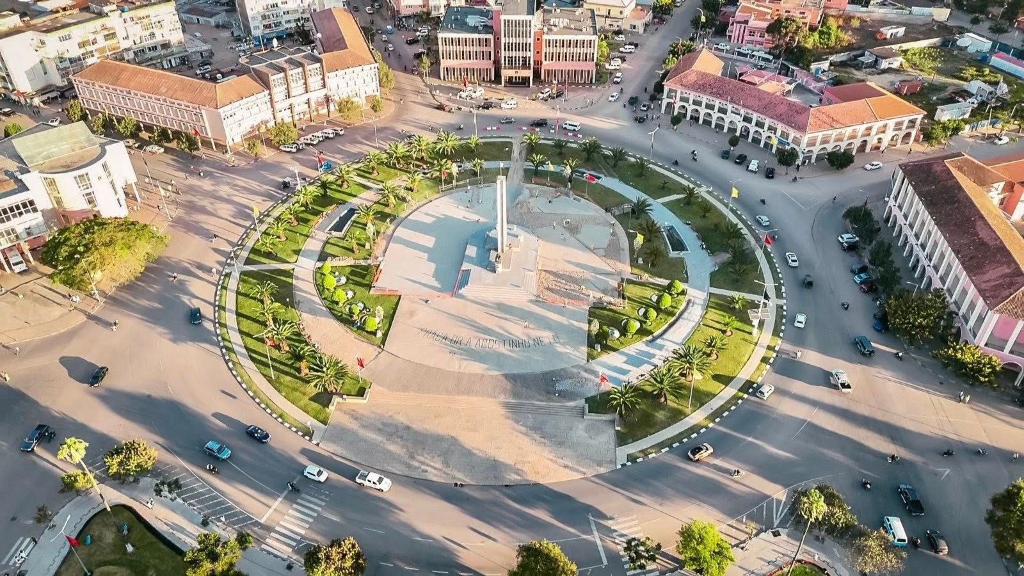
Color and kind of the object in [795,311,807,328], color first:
white vehicle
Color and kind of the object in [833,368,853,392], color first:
white vehicle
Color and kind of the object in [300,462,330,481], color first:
white car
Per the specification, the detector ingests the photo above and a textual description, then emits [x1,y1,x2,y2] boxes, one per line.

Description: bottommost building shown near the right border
[884,141,1024,381]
